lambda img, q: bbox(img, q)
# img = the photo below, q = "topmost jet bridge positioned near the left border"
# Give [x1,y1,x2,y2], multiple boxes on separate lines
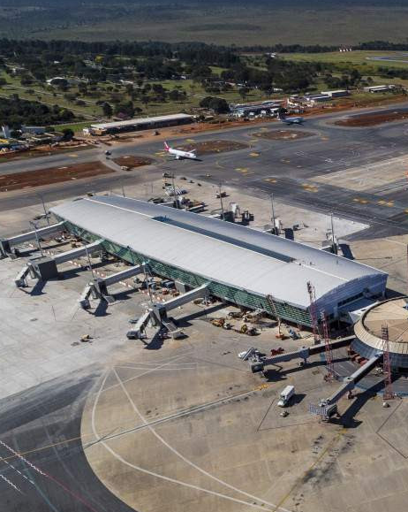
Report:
[0,222,80,261]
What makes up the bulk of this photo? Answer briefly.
paved ground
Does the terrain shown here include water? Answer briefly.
No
